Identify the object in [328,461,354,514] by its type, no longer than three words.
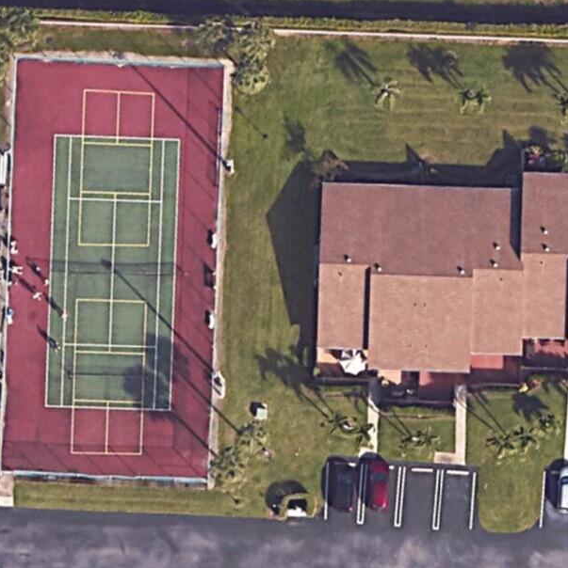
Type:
car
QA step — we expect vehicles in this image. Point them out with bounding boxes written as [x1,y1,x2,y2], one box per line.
[366,461,392,513]
[328,461,354,514]
[556,466,568,515]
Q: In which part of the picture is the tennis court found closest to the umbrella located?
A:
left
